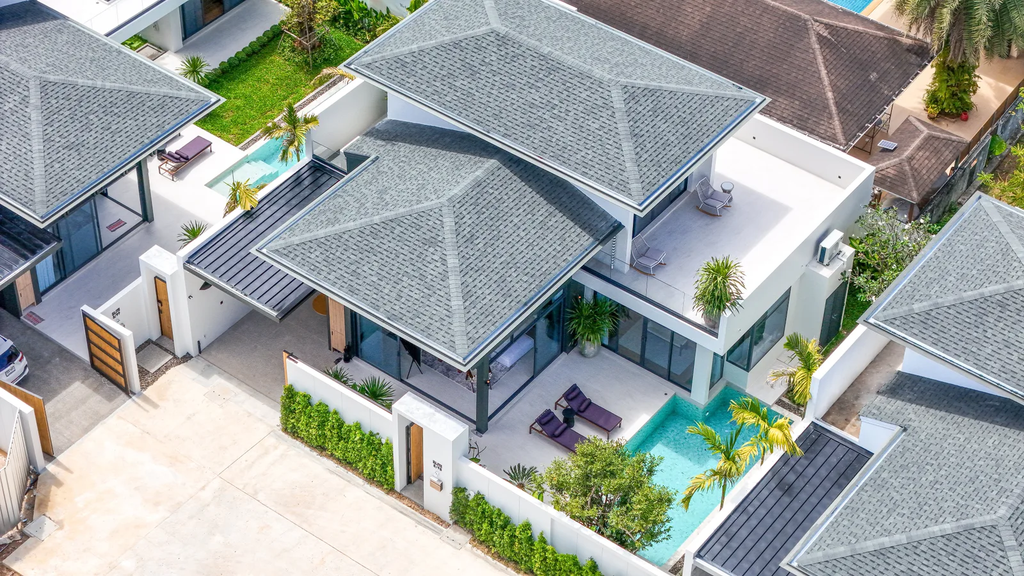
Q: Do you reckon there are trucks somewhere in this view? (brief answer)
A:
No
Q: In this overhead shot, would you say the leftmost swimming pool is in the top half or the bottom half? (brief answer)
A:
top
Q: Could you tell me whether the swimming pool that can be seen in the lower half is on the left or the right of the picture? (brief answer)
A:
right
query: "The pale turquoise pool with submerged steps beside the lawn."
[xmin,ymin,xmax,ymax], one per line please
[205,122,304,205]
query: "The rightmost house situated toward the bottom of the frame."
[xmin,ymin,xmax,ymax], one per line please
[693,189,1024,576]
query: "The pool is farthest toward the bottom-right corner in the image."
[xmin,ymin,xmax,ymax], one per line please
[600,389,794,567]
